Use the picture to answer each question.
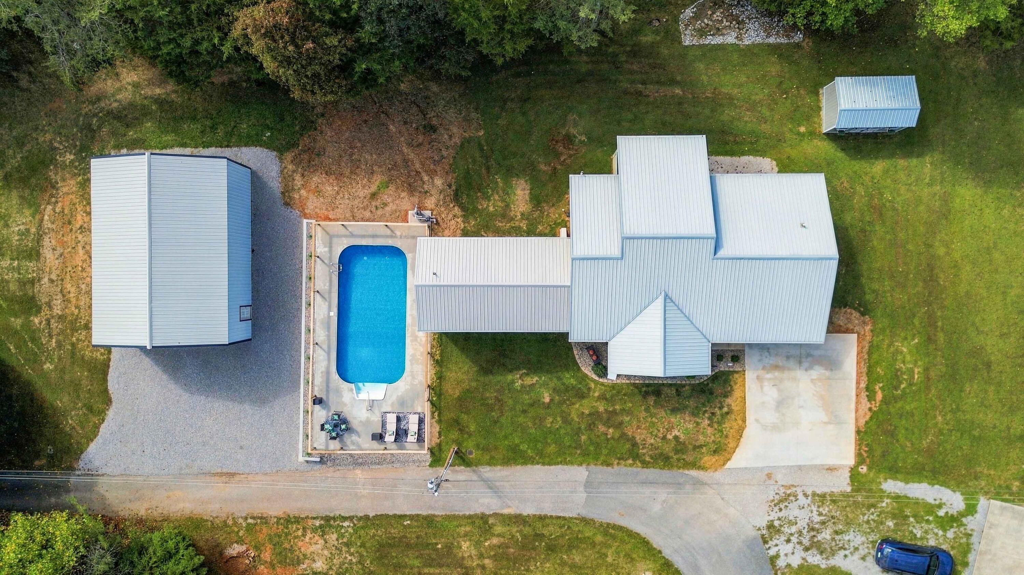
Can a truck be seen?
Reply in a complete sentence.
No, this view has no truck in it.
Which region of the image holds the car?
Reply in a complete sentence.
The car is located in the bottom right region of the scene.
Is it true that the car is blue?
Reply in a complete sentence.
Yes, the car appears blue.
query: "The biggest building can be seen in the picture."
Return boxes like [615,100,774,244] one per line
[414,133,840,378]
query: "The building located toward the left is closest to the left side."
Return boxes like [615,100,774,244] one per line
[90,152,252,349]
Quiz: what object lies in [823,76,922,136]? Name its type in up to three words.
shed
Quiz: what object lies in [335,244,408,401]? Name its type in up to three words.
swimming pool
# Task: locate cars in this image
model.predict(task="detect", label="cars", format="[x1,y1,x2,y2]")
[875,539,955,575]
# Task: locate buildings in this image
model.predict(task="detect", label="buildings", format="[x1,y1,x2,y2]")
[414,133,840,378]
[823,76,922,136]
[90,152,252,349]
